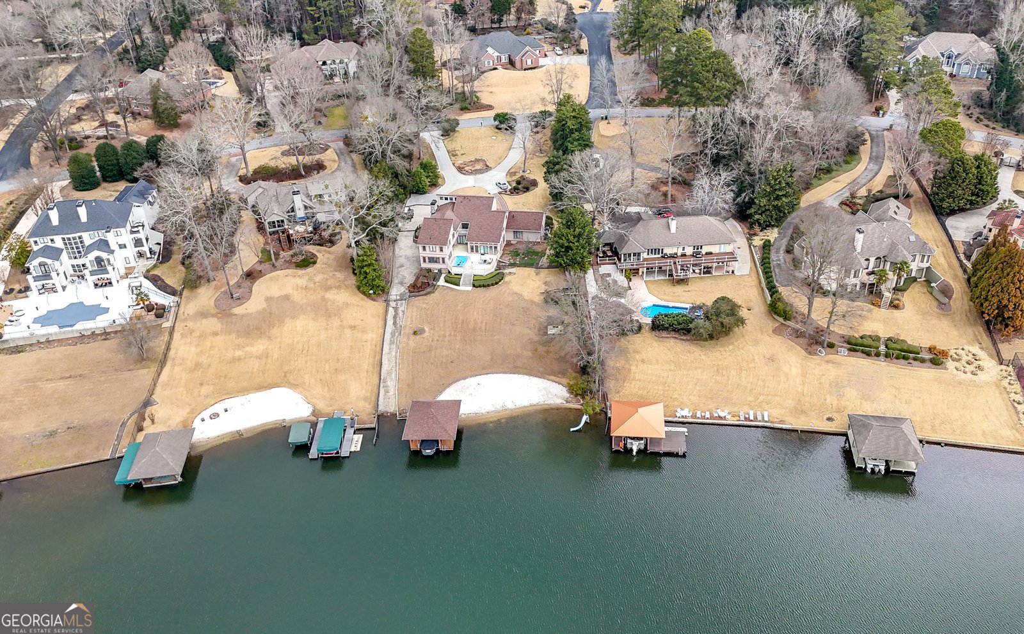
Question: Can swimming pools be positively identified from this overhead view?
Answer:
Yes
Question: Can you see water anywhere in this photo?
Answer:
Yes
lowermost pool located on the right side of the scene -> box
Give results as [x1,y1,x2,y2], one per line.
[638,302,695,319]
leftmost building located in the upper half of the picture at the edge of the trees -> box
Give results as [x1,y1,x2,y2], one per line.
[19,176,167,295]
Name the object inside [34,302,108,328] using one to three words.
swimming pool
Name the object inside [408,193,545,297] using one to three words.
house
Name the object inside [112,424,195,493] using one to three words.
building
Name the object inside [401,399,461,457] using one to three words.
building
